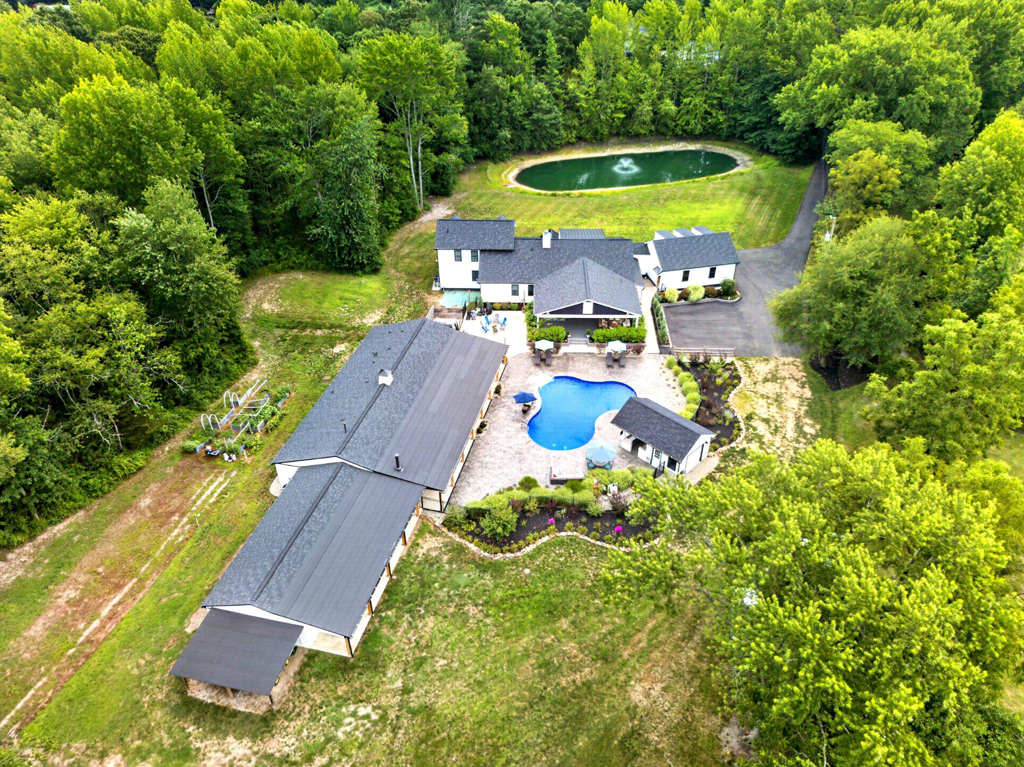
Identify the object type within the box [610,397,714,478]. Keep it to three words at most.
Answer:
building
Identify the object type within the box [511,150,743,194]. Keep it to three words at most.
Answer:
pond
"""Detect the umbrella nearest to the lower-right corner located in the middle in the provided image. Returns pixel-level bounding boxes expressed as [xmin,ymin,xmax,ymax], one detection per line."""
[586,439,620,463]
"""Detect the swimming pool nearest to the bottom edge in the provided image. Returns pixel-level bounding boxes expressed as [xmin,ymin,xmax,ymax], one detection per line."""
[520,371,641,453]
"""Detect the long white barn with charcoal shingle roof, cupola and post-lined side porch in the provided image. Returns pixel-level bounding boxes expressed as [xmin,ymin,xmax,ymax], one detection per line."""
[167,317,510,712]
